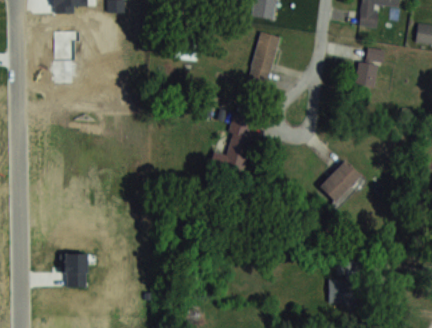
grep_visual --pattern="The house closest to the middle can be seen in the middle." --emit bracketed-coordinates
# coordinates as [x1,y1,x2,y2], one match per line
[212,122,250,169]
